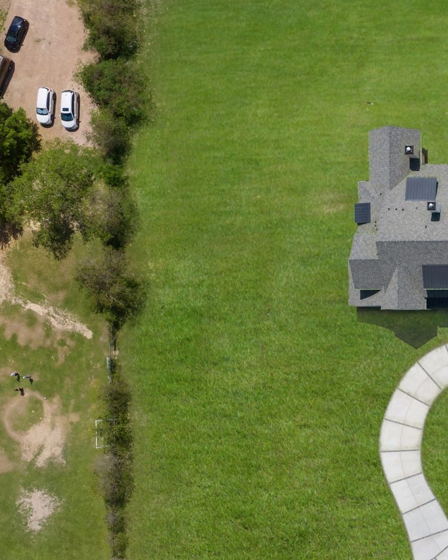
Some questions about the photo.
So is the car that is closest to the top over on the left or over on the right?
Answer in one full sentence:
The car that is closest to the top appears in the left half of the scene.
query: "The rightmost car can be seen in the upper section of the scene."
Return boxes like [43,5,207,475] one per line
[62,92,81,130]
